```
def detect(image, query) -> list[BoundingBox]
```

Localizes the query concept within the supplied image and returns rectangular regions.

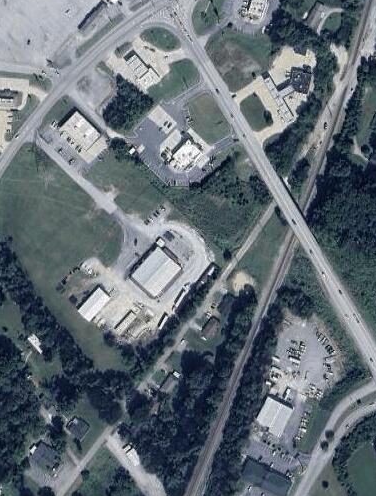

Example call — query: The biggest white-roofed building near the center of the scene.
[129,246,185,302]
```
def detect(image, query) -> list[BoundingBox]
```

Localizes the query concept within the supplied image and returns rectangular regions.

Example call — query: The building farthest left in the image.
[0,90,21,106]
